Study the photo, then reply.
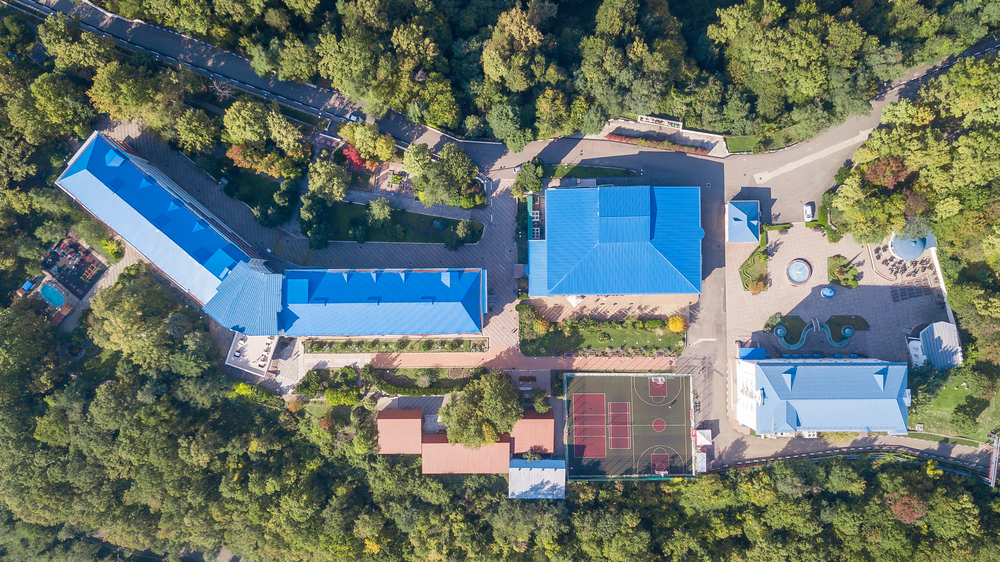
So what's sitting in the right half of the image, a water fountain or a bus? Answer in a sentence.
What appears in the right half of the image is a water fountain.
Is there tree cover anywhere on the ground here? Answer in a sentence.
Yes, the picture does contain tree cover.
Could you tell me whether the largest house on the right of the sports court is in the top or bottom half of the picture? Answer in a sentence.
Seen from above, the largest house on the right of the sports court lies in the bottom half of the view.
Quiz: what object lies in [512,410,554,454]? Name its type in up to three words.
house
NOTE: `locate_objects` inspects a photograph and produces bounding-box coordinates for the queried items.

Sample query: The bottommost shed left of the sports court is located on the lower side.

[509,457,565,499]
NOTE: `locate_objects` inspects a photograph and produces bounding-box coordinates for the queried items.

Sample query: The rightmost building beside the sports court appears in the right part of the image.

[732,341,912,442]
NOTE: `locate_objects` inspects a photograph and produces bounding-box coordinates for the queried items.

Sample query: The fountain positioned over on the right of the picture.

[786,257,813,283]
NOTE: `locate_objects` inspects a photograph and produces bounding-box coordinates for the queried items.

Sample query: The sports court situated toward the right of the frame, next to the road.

[565,375,692,475]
